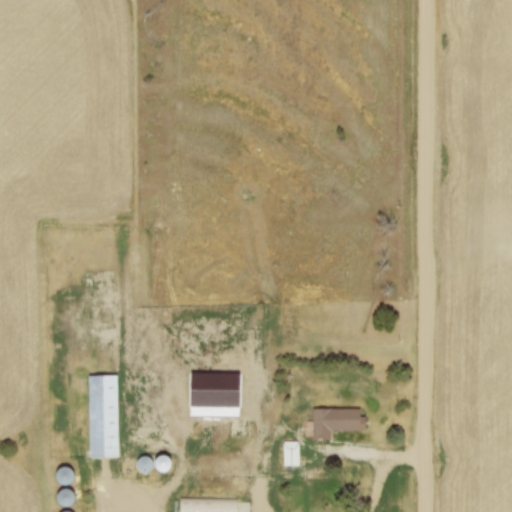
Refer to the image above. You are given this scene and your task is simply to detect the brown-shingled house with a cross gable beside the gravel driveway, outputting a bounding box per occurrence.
[305,408,366,442]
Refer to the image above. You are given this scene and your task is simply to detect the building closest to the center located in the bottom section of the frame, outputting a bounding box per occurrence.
[190,372,242,421]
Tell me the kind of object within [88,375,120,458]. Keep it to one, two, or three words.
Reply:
barn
